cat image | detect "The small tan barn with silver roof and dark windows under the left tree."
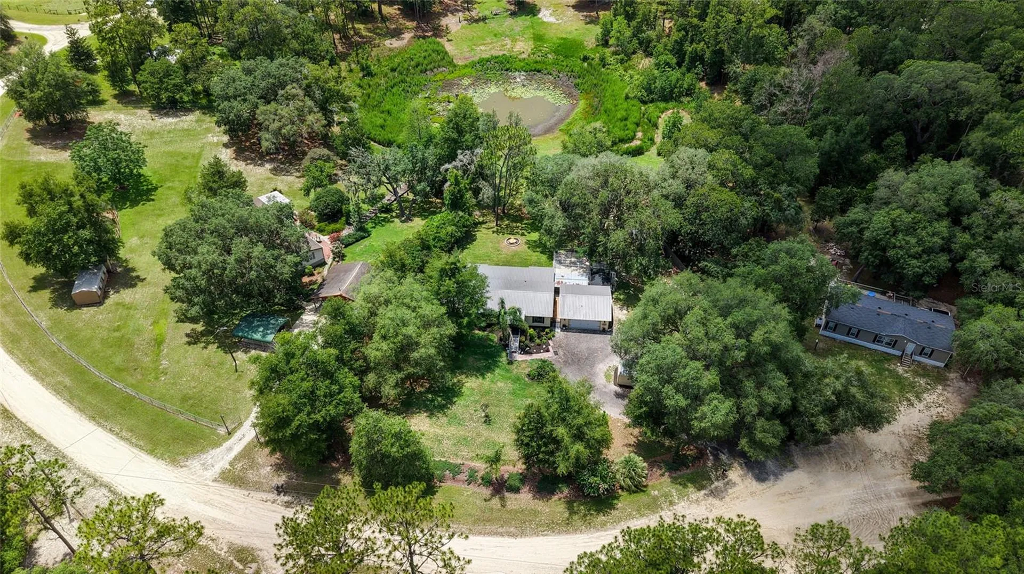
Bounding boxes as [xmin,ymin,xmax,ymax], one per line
[69,258,109,306]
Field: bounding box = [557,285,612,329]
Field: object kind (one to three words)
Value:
building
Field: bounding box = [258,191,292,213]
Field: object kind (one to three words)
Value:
shed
